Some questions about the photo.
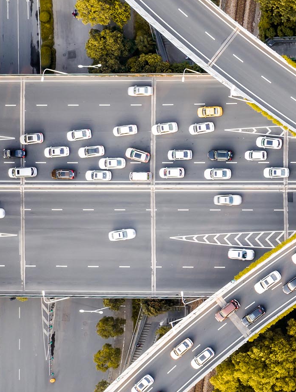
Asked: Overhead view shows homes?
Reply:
No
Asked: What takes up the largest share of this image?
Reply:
paved ground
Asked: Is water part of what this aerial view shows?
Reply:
No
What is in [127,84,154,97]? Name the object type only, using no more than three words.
vehicle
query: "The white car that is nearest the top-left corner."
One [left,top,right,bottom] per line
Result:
[19,132,47,145]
